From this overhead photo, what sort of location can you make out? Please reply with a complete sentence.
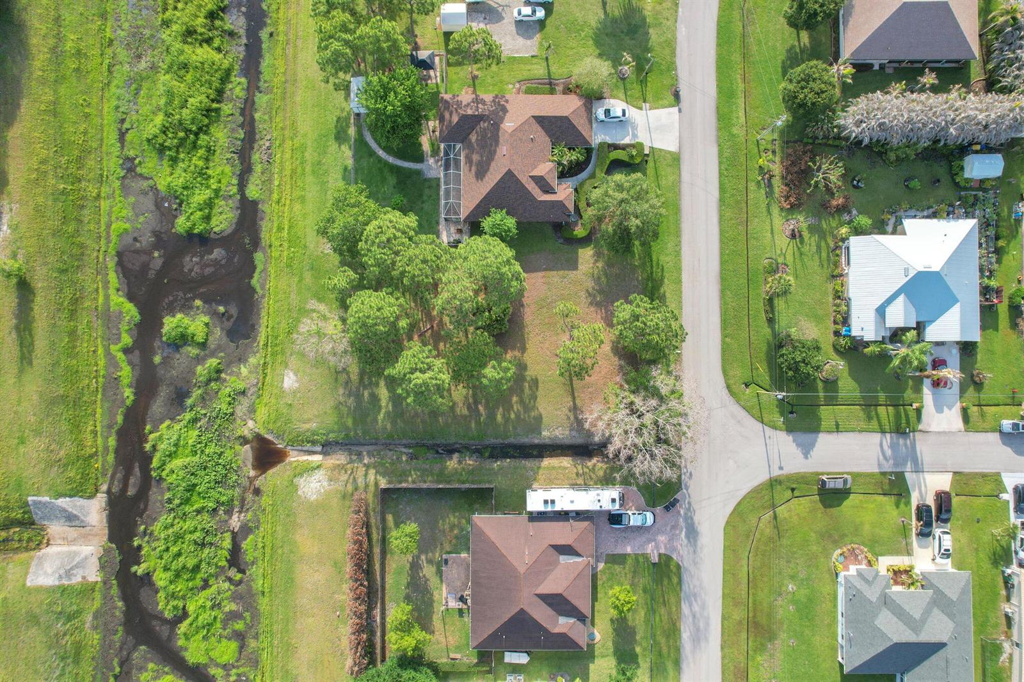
The area seen from above is a residential area.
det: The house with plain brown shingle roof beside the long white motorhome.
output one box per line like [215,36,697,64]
[470,514,595,651]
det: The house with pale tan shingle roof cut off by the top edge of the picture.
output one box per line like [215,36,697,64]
[838,0,978,69]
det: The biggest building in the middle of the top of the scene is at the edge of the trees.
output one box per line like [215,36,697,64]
[439,95,593,222]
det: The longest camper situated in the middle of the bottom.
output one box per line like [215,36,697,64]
[527,485,621,511]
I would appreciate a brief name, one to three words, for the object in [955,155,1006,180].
shed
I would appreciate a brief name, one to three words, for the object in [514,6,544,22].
car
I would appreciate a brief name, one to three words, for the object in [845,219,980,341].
house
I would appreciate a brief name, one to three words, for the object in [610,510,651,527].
vehicle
